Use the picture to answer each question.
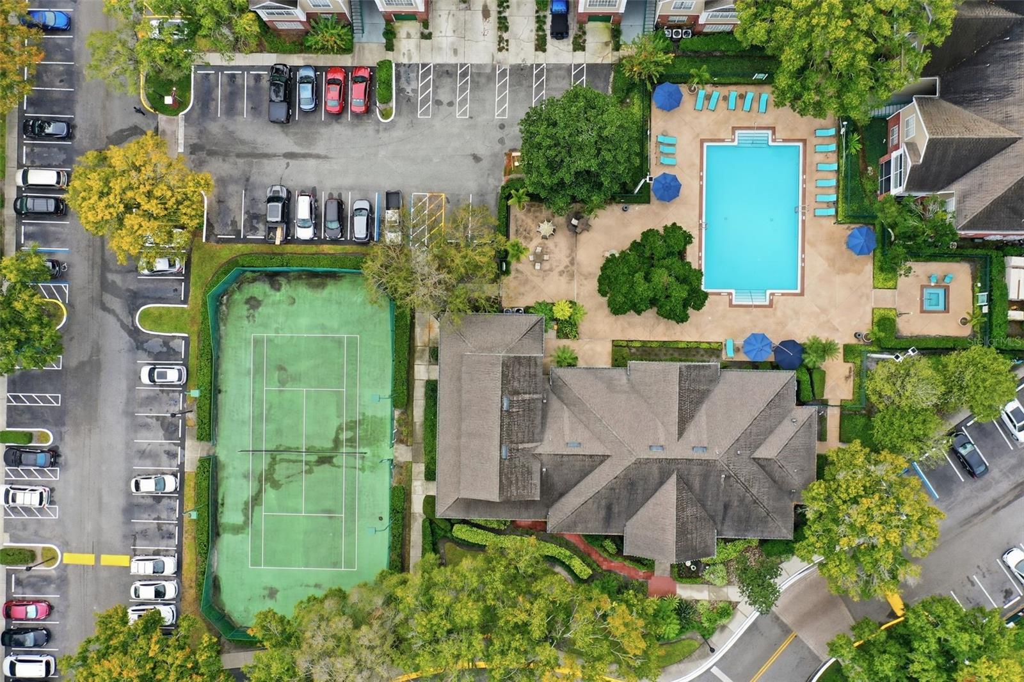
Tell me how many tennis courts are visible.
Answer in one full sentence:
Altogether the scene contains 1 tennis court.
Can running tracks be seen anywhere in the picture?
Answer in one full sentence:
No, there's no running track here.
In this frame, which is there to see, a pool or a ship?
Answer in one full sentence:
There is a pool in the scene.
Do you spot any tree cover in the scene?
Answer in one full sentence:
Yes, tree cover can be seen from above here.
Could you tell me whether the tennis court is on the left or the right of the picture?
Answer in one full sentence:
It is on the left.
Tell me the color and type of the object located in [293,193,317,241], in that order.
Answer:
white car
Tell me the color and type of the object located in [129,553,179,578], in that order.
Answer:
white car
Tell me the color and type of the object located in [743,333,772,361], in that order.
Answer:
blue umbrella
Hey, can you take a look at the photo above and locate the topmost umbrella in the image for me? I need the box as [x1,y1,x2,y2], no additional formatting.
[652,81,683,112]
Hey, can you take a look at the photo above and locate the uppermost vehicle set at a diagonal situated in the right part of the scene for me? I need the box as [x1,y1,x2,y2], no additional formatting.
[950,431,991,480]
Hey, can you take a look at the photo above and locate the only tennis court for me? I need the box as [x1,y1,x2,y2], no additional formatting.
[214,271,395,631]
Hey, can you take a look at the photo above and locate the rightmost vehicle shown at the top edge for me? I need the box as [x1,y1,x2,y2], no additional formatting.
[547,0,571,43]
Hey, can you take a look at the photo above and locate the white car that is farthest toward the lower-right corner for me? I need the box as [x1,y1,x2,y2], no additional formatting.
[1004,547,1024,588]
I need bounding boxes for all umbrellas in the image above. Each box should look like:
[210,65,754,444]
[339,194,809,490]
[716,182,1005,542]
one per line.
[651,173,681,202]
[652,81,683,112]
[773,340,803,369]
[846,227,876,255]
[743,333,772,361]
[537,219,555,238]
[575,216,592,233]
